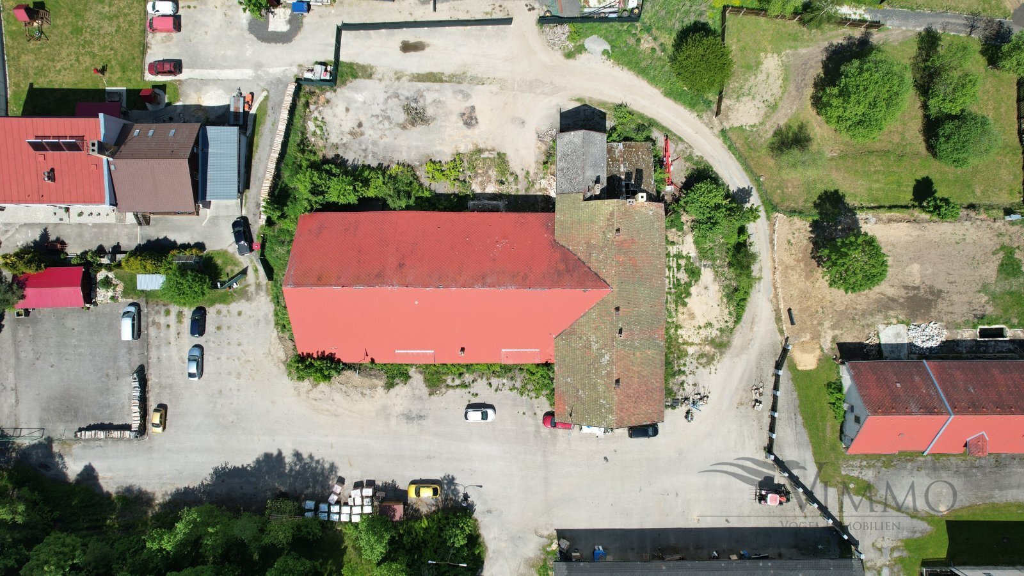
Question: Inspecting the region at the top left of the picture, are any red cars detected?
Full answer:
Yes, there is a red car at the top left of the picture.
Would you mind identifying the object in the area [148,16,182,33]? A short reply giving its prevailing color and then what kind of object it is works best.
red vehicle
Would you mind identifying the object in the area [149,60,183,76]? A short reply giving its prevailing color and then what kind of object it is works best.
red car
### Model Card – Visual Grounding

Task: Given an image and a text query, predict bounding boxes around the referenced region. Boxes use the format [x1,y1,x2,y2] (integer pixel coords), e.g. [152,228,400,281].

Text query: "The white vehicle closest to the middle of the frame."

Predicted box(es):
[464,405,494,421]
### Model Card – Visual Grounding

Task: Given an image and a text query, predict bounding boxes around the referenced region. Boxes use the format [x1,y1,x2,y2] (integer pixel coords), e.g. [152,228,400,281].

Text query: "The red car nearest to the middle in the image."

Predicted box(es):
[541,413,573,429]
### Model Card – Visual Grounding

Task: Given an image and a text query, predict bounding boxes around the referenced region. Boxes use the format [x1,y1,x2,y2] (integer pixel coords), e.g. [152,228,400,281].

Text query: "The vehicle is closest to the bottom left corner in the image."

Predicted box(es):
[151,403,168,431]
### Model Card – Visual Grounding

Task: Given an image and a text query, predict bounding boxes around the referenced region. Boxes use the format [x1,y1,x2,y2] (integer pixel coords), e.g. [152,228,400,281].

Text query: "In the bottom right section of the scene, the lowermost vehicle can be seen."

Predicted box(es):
[749,488,800,509]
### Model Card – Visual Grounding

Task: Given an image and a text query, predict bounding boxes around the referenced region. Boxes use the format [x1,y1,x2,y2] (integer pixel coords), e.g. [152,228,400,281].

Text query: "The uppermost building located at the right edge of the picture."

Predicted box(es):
[840,360,1024,459]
